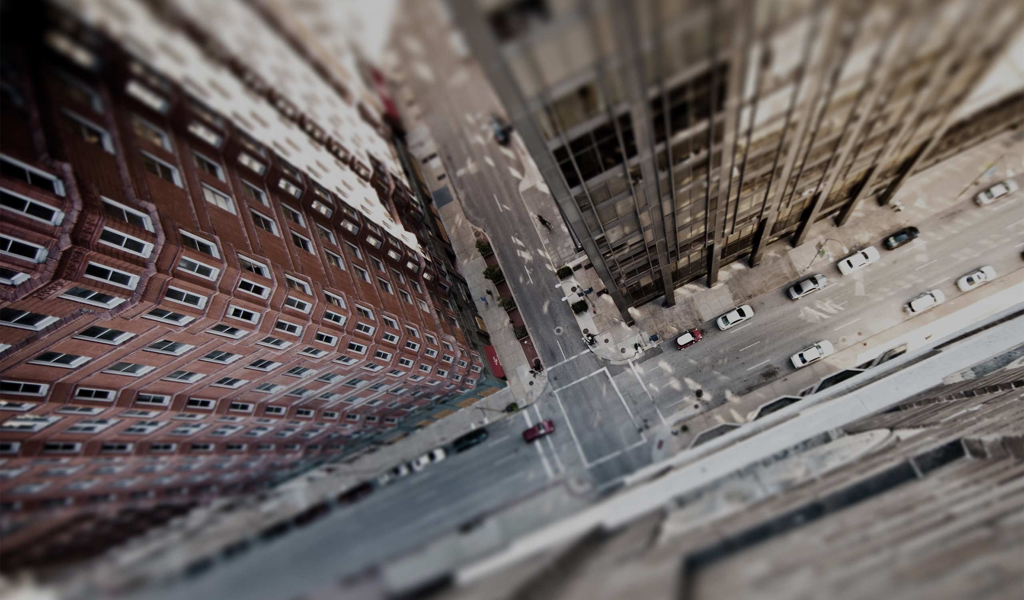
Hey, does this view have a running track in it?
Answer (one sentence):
No, this view has no running track in it.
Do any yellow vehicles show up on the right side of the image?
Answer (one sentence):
No, no yellow vehicle can be made out on the right side of the image.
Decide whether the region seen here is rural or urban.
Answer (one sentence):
The area is urban.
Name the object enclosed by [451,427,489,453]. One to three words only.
car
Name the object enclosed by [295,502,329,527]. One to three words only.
car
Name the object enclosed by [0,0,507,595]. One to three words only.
building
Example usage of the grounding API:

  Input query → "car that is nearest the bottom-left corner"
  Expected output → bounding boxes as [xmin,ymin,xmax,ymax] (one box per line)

[181,556,213,580]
